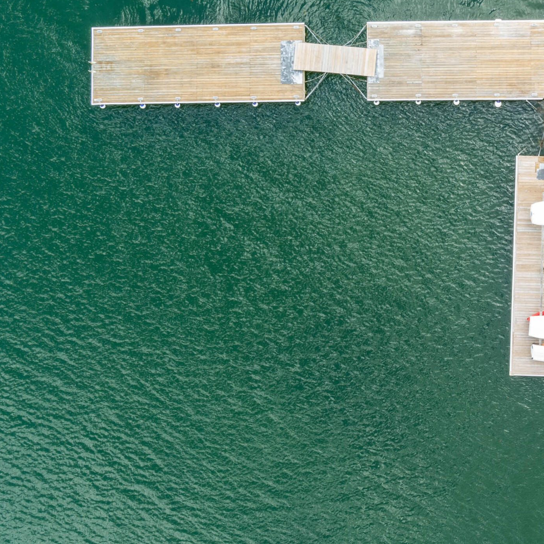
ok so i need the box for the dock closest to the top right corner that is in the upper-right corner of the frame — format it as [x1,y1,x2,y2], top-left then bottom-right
[366,19,544,102]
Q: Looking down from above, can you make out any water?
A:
Yes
